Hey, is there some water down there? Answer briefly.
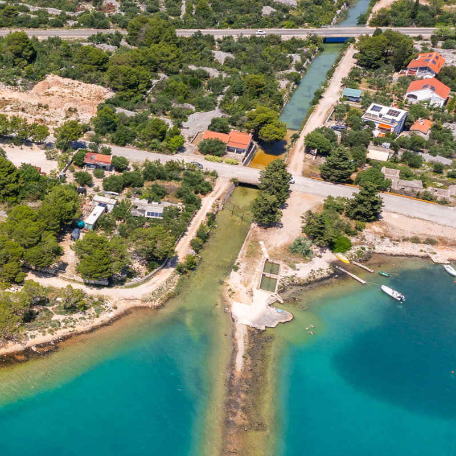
Yes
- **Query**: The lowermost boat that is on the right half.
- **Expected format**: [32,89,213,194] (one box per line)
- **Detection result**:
[380,284,408,301]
